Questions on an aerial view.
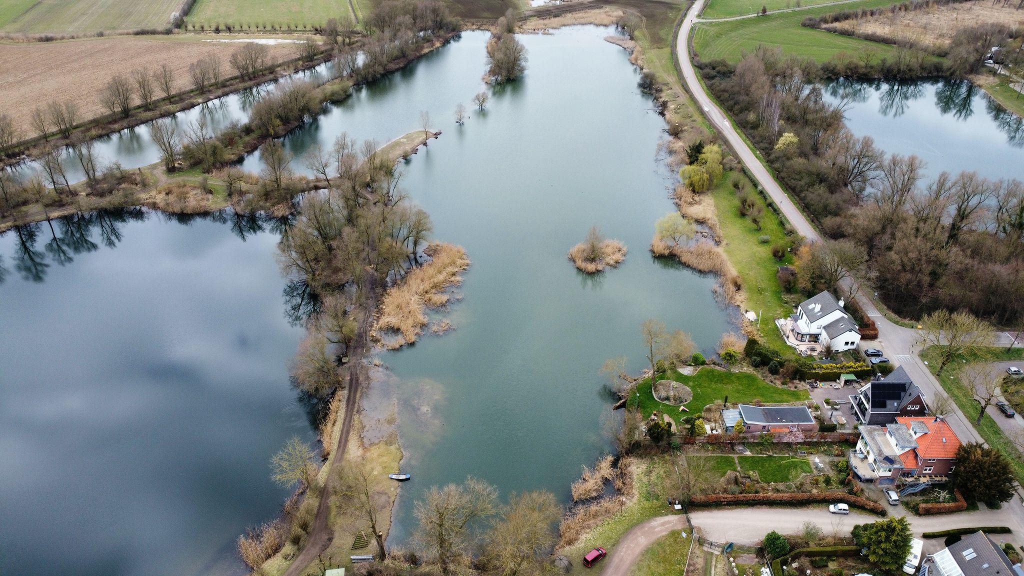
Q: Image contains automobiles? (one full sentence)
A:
Yes, there is an automobile in the image.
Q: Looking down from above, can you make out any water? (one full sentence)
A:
Yes, there is water in the image.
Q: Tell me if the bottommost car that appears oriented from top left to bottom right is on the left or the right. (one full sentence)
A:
The bottommost car that appears oriented from top left to bottom right sits on the right side.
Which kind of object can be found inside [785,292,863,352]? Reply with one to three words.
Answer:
house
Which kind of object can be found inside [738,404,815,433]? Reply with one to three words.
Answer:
shed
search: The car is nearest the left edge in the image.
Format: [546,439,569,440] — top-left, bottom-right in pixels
[582,549,606,568]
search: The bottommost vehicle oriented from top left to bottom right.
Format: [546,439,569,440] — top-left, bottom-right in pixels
[880,489,903,509]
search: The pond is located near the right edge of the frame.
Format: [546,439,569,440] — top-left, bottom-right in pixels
[784,77,1024,218]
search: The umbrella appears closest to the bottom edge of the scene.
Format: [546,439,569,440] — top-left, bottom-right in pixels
[553,557,571,571]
